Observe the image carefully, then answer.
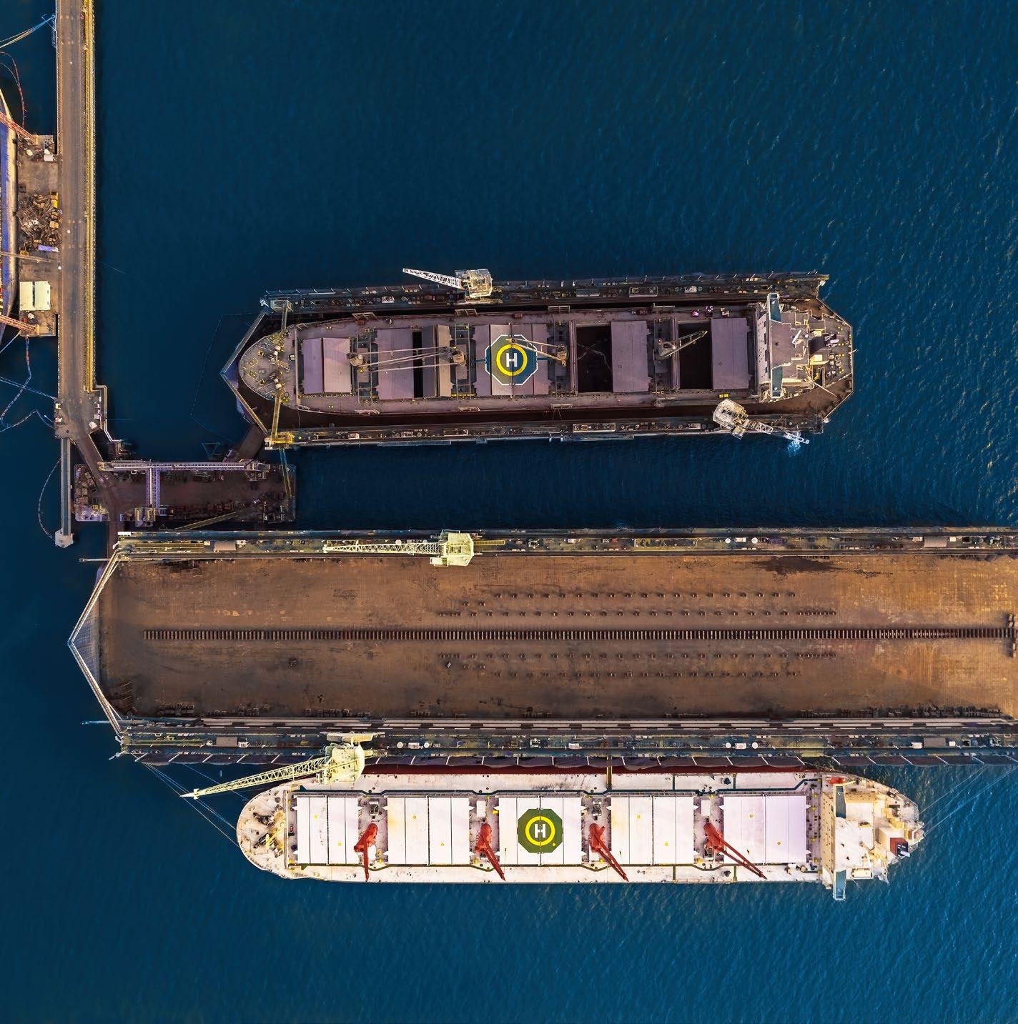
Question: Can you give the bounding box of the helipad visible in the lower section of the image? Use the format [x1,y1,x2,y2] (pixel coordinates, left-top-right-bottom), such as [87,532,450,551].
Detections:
[518,808,563,853]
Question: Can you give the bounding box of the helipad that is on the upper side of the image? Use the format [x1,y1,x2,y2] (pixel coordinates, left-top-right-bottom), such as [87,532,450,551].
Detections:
[485,334,537,385]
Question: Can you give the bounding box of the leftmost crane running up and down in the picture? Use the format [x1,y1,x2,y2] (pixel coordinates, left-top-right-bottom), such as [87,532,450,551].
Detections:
[357,821,378,882]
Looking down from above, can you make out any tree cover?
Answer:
No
